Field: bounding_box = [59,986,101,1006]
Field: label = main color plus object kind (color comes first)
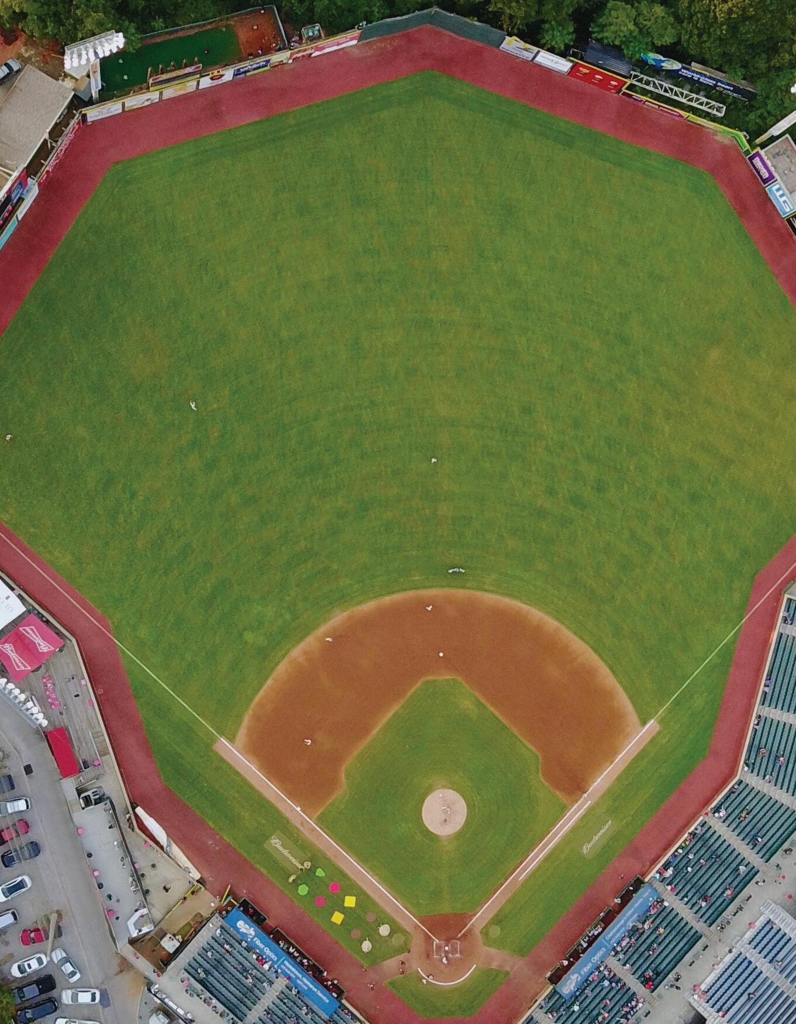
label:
white car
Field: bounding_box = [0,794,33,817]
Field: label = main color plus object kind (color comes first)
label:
white car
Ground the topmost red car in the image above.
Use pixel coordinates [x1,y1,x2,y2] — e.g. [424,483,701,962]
[0,818,31,845]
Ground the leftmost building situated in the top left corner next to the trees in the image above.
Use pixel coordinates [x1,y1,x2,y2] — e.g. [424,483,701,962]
[0,63,76,183]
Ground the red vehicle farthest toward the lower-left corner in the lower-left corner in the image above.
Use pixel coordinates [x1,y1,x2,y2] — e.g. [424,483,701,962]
[15,924,56,946]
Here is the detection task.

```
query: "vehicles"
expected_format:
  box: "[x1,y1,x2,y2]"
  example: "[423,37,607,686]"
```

[10,970,60,1008]
[7,950,50,980]
[0,839,43,871]
[15,992,61,1024]
[0,904,23,930]
[74,783,110,809]
[50,945,81,985]
[59,986,101,1006]
[0,773,18,793]
[15,924,56,946]
[56,1015,100,1024]
[0,872,37,904]
[0,794,33,817]
[0,818,31,845]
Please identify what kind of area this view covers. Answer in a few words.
sports ground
